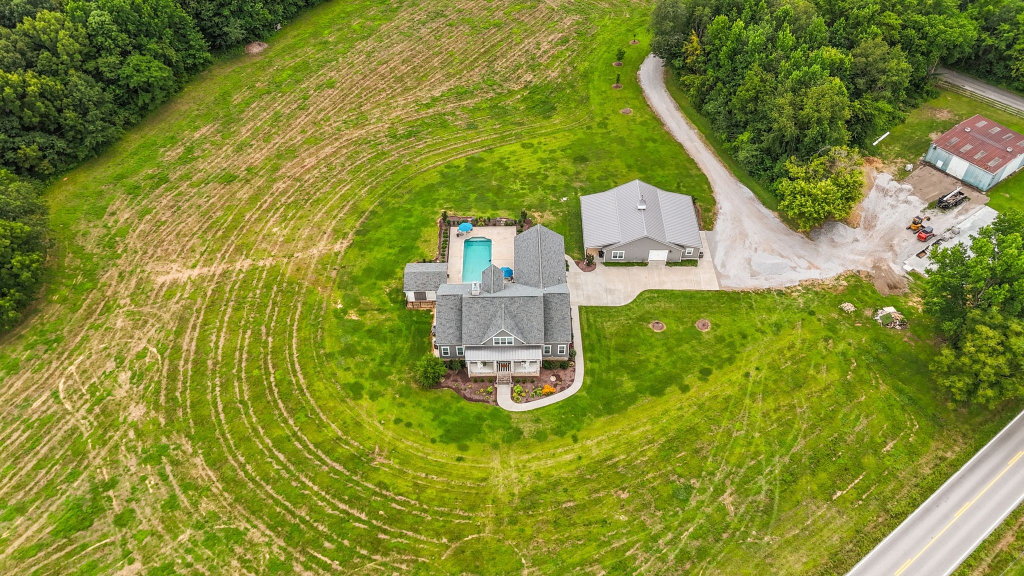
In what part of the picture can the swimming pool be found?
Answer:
center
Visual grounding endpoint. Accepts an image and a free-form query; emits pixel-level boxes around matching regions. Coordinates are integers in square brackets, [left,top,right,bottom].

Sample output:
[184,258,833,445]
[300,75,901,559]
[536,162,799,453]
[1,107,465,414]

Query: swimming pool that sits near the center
[461,236,493,283]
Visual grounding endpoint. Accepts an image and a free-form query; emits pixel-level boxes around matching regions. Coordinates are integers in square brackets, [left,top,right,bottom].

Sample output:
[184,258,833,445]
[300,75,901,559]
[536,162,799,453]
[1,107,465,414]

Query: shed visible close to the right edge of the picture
[925,113,1024,191]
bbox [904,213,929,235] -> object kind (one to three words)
work vehicle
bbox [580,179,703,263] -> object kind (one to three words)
barn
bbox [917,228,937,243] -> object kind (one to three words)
work vehicle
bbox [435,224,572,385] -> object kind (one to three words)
house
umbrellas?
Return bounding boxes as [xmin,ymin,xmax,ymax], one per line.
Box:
[502,268,514,283]
[459,224,472,238]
